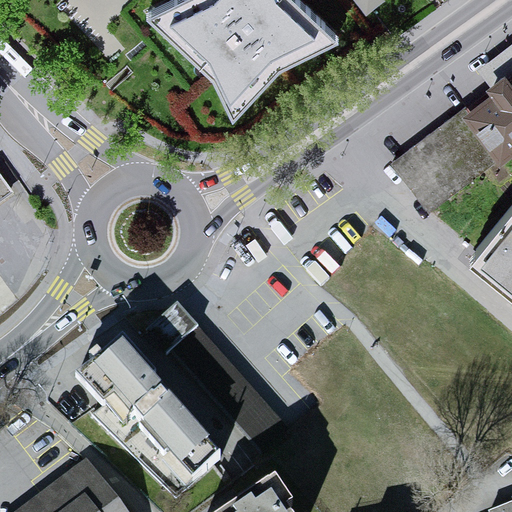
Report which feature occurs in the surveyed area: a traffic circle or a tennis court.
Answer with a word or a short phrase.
traffic circle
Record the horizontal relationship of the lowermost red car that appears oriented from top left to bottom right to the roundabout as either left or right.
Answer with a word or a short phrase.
on the right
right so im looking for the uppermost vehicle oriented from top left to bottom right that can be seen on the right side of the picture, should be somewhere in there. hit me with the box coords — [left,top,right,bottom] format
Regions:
[443,83,462,106]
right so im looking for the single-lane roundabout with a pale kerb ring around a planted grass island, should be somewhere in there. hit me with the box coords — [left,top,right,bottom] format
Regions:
[61,163,213,301]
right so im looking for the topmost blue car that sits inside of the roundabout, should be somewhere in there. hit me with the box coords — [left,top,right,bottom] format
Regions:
[152,176,172,196]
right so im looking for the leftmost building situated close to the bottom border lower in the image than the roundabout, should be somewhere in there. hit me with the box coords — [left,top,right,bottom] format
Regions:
[12,457,130,512]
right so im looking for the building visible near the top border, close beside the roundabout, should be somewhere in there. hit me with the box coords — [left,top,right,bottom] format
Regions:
[144,0,340,126]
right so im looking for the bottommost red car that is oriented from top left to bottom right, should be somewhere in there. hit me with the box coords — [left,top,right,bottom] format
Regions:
[270,274,289,294]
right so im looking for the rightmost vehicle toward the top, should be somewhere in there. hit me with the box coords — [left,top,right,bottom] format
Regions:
[466,52,490,72]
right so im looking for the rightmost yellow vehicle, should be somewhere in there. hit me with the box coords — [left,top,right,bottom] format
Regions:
[338,219,360,243]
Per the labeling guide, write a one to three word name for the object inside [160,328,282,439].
building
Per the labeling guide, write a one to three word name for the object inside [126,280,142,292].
vehicle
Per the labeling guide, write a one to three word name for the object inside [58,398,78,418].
car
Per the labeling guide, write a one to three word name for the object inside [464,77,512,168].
house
